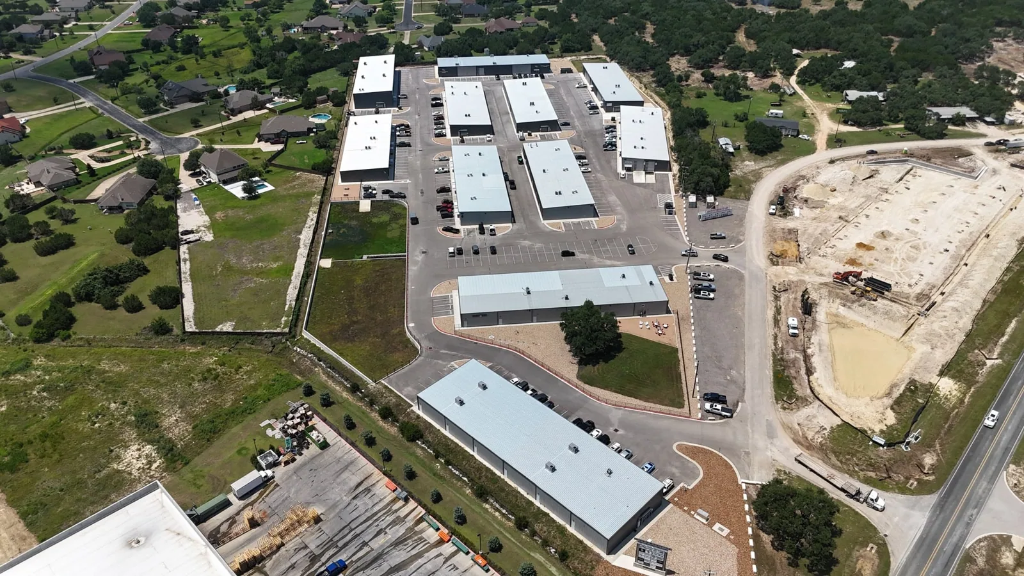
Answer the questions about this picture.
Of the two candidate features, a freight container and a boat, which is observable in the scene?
freight container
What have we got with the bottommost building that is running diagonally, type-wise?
warehouse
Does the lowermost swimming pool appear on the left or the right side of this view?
left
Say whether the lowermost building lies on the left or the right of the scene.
left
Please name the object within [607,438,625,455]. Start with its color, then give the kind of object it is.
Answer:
white car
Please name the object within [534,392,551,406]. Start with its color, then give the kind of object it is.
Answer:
black car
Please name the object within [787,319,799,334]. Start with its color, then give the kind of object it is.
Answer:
white vehicle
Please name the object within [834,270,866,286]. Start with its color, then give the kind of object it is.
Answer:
red work vehicle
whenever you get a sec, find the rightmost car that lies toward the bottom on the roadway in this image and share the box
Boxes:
[984,411,999,427]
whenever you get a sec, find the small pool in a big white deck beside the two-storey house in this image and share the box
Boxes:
[232,177,275,198]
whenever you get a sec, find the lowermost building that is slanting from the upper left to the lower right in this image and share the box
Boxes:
[416,361,664,556]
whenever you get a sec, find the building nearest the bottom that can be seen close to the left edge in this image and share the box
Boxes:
[0,480,223,576]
